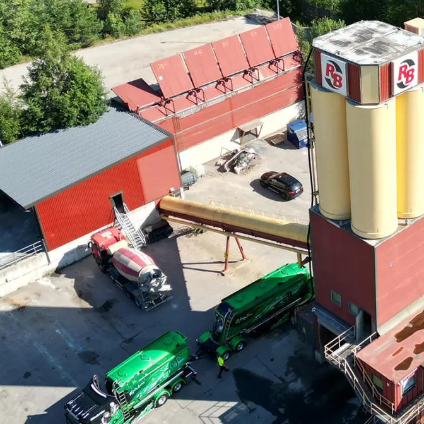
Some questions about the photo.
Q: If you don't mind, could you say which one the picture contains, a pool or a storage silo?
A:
storage silo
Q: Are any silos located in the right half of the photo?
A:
Yes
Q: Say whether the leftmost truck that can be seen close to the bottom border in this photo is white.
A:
No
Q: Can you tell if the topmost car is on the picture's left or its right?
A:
right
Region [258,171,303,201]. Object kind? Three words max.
car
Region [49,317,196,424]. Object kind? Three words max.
truck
